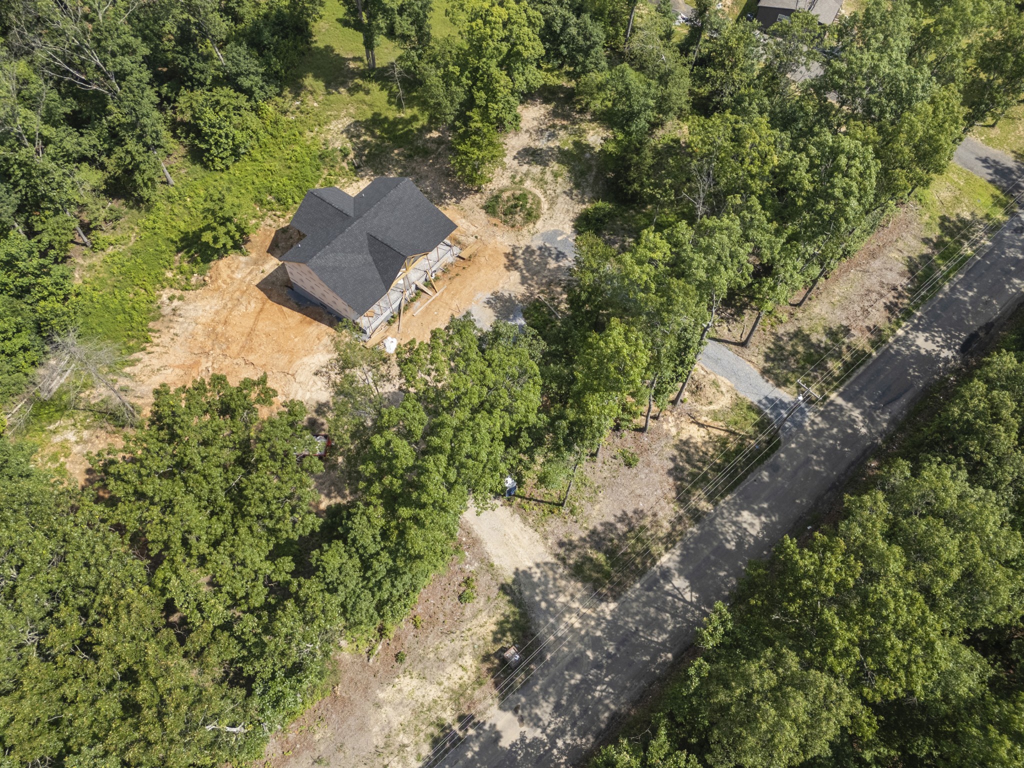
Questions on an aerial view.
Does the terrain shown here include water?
No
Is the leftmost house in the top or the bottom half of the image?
top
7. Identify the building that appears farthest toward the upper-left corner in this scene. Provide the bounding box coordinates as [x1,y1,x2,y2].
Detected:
[281,176,458,341]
